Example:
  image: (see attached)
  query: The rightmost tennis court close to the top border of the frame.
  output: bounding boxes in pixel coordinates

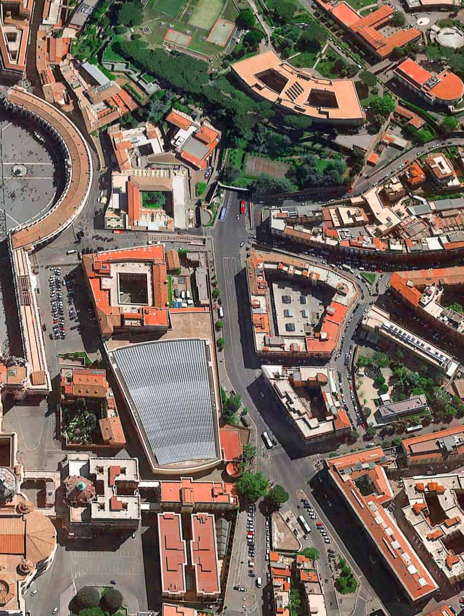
[207,18,235,47]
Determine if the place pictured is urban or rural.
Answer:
urban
